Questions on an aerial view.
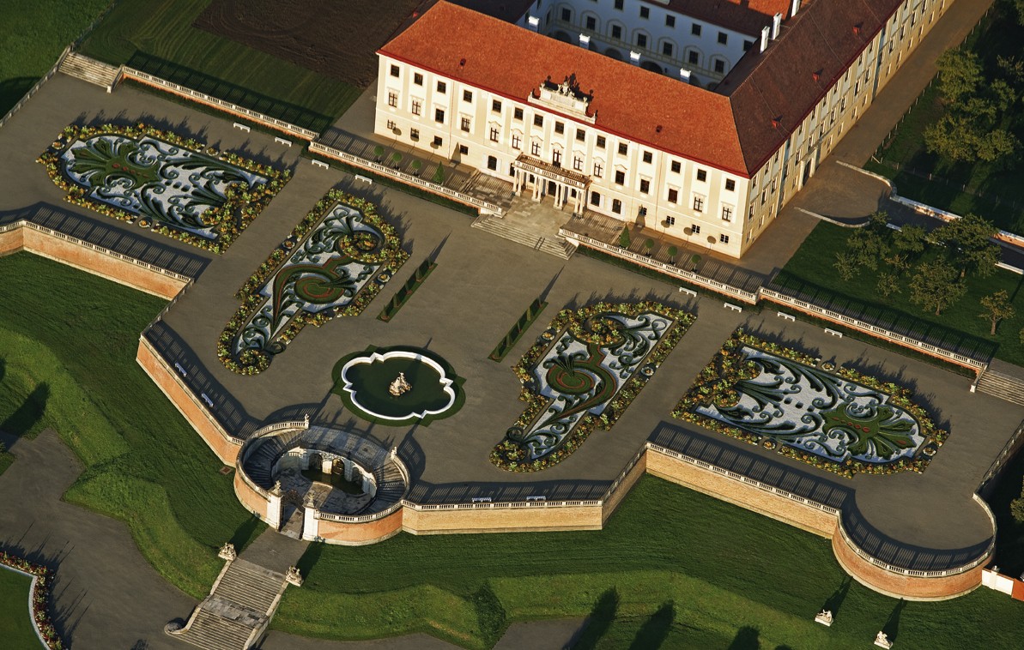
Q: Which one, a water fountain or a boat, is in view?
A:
water fountain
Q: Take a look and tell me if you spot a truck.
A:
No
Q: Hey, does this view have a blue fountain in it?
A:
No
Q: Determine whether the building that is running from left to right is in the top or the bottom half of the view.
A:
top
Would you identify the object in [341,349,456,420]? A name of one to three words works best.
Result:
fountain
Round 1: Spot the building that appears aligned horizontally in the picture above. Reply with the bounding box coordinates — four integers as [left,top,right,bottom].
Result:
[370,0,960,260]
